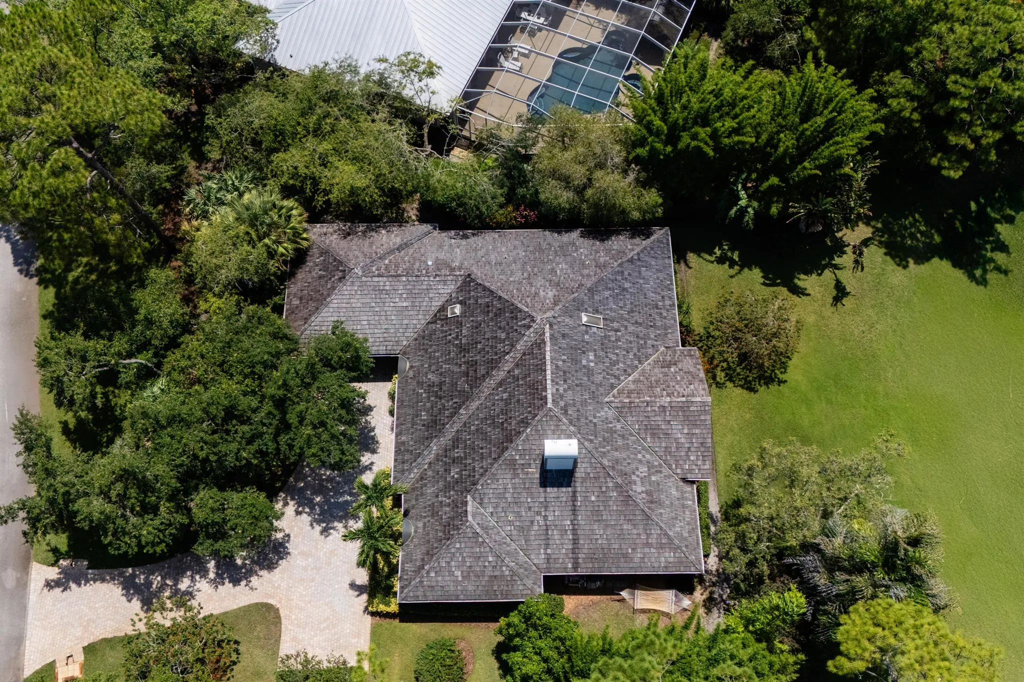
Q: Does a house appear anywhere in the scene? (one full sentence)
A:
Yes, the photo shows a house.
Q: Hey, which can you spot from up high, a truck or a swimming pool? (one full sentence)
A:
Looking from above, you can make out a swimming pool.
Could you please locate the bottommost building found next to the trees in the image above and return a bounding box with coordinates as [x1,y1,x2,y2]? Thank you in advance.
[279,222,713,604]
